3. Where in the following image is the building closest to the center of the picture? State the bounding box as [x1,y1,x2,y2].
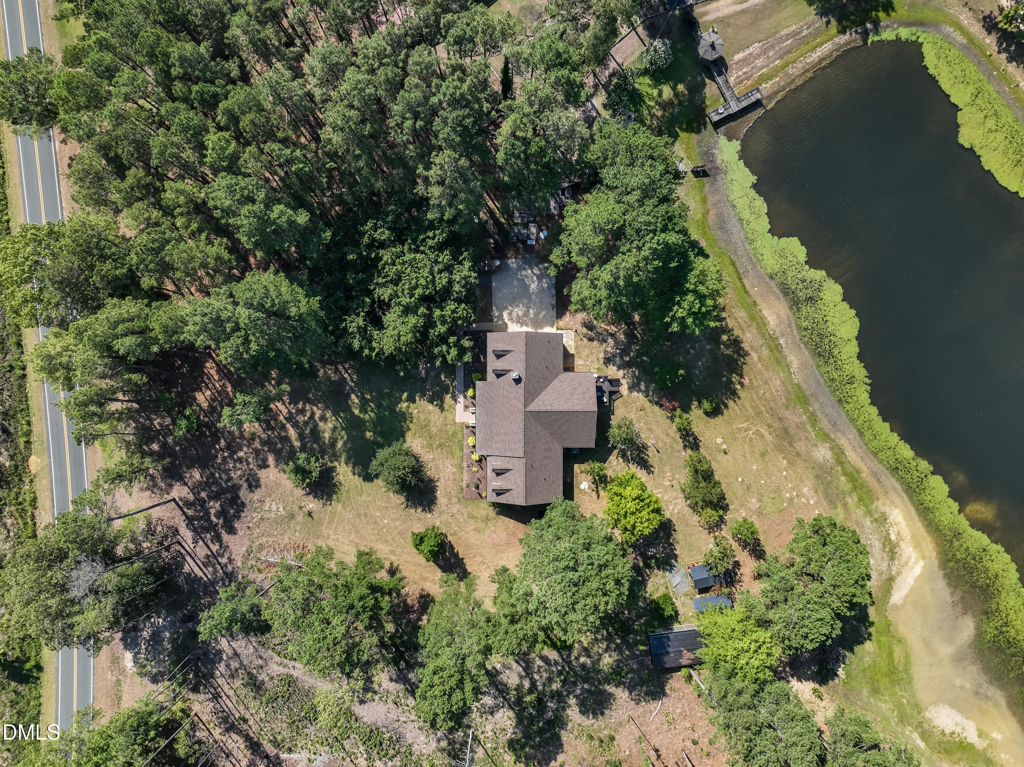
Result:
[470,331,598,505]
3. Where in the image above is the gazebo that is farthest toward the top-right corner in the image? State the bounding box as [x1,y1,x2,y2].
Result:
[693,32,725,68]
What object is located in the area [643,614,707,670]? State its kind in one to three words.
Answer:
barn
